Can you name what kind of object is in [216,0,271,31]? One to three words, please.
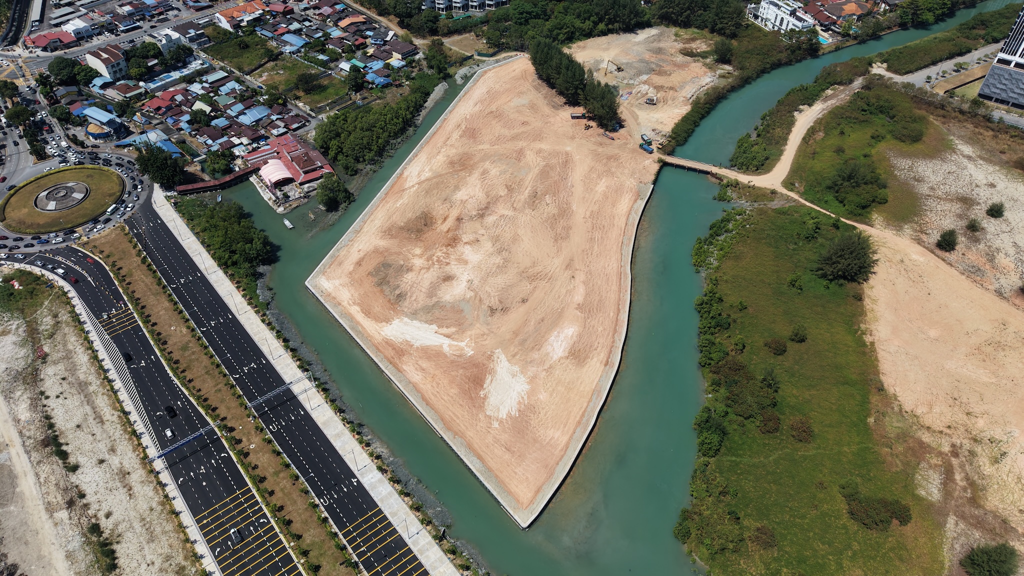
house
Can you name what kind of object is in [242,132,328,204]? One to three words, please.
building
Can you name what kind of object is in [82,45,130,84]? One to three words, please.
house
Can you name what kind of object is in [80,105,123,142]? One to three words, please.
building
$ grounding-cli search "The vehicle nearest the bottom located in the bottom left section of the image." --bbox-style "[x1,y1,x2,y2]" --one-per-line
[230,527,243,544]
